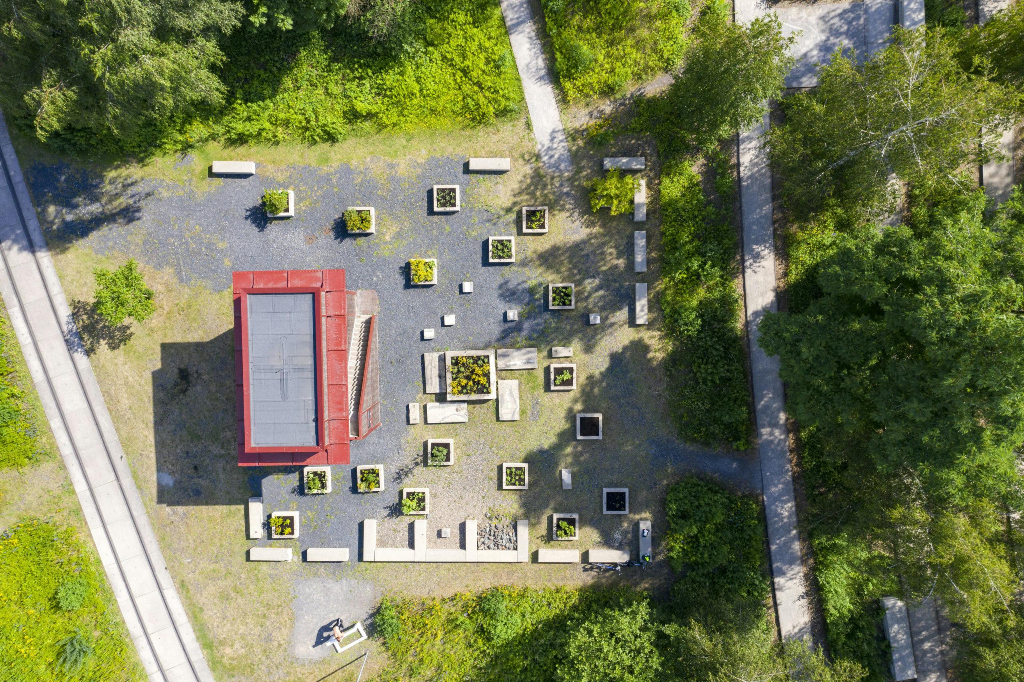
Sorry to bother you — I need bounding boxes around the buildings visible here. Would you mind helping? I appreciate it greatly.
[234,269,382,466]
